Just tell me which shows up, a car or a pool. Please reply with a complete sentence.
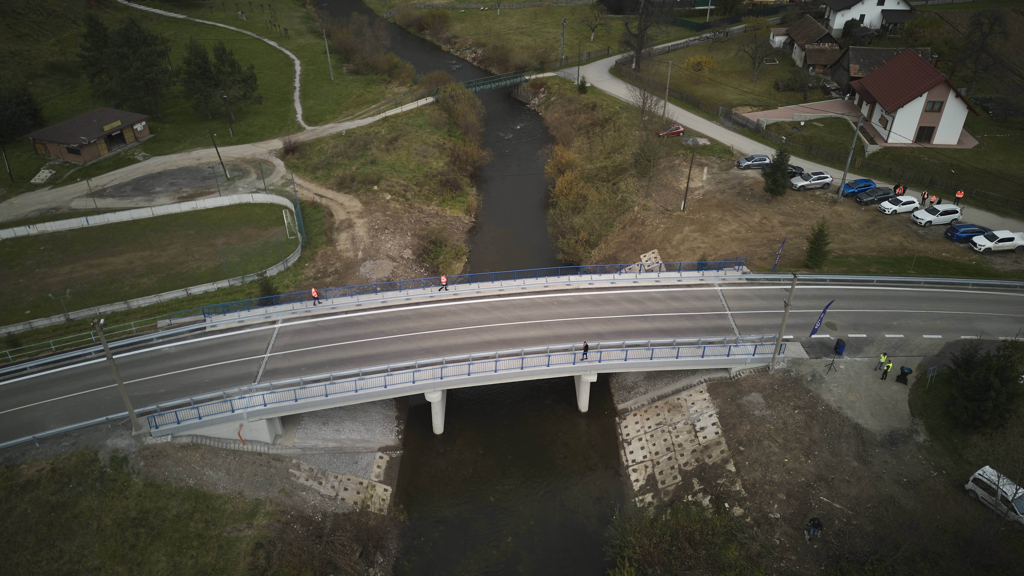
Looking from above, you can make out a car.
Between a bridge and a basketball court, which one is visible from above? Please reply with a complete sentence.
This aerial view contains a bridge.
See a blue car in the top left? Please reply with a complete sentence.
No, I can find no blue car in the top left.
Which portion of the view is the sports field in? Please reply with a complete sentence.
The sports field appears toward the left of the photo.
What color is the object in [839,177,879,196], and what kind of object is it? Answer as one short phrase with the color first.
blue car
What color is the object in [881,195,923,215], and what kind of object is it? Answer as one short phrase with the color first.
white car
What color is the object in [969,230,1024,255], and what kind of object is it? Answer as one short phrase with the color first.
white truck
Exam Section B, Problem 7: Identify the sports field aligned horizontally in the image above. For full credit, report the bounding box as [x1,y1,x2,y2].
[0,191,300,336]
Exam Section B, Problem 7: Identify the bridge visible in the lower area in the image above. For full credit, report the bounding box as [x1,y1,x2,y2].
[152,256,785,445]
